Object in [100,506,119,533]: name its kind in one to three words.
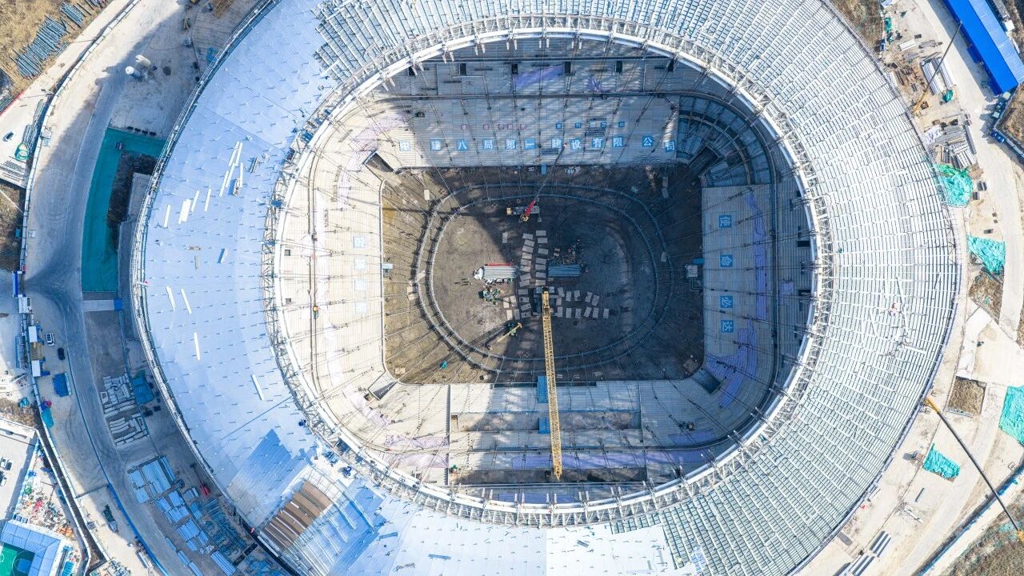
vehicle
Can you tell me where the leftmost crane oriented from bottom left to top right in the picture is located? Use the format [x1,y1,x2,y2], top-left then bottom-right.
[506,144,566,223]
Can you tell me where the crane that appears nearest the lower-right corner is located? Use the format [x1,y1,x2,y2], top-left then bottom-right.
[917,388,1024,538]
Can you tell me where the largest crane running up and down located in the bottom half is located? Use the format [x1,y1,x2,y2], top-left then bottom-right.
[536,287,562,481]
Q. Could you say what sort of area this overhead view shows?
sports ground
